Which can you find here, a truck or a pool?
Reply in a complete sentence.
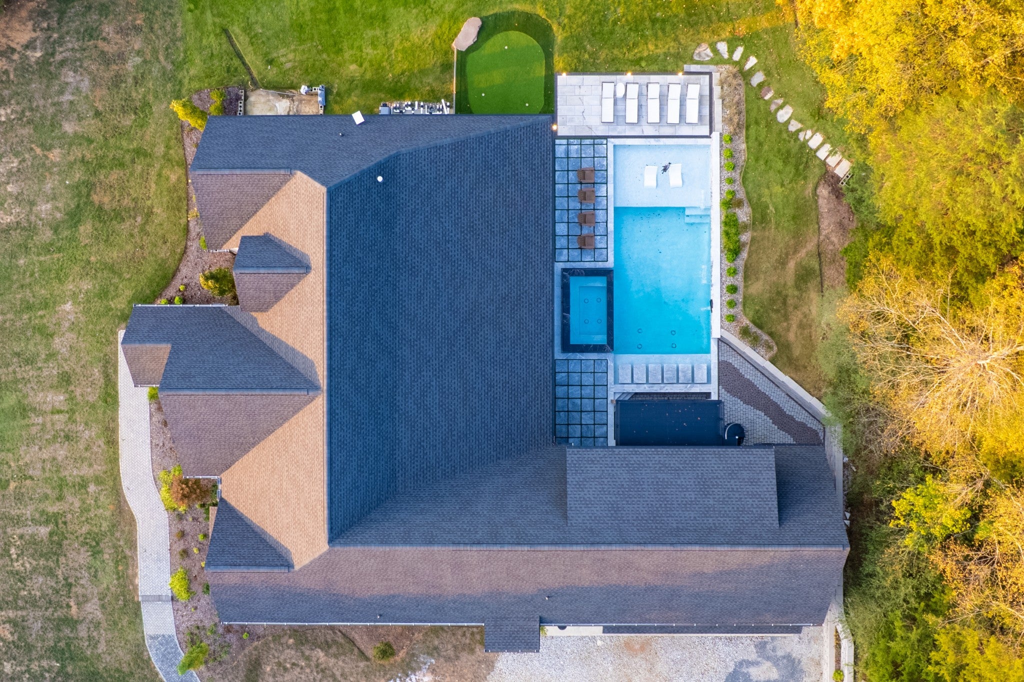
This aerial view contains a pool.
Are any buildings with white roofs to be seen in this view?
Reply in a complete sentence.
No, no building with a white roof can be seen from above.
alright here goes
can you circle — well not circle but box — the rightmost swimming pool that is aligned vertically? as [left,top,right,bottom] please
[608,132,720,444]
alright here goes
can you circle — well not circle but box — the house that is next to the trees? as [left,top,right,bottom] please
[121,113,849,656]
